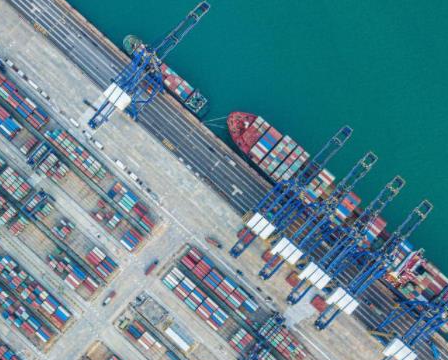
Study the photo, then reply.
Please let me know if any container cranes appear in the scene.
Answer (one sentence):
Yes, there's a container crane here.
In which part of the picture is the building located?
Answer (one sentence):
The building is in the bottom part of the image.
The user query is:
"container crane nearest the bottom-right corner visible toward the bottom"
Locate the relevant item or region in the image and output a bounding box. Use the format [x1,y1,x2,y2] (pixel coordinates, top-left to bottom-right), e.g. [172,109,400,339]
[368,289,448,360]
